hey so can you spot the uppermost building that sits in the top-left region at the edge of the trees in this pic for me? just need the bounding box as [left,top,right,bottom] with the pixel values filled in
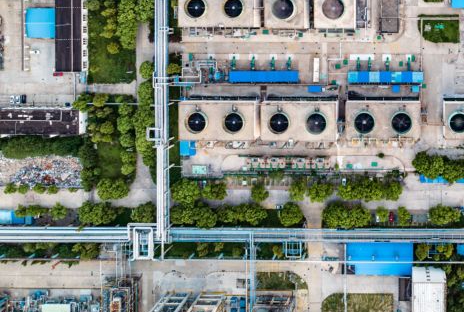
[55,0,92,71]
